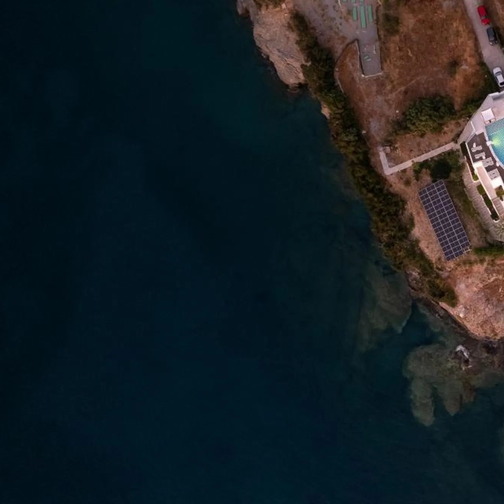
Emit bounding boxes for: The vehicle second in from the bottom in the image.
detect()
[484,26,500,47]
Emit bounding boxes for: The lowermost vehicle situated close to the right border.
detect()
[492,66,504,88]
